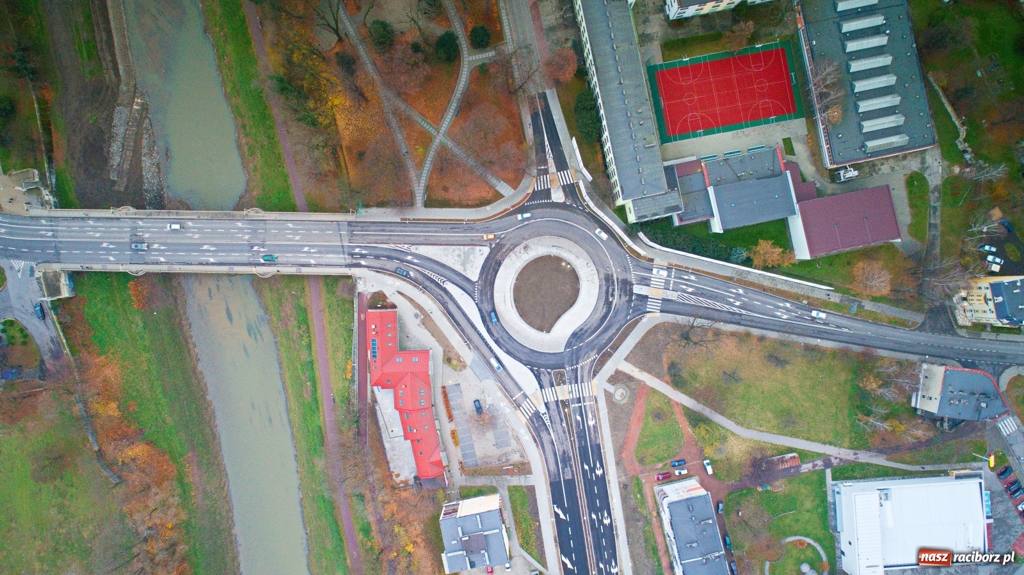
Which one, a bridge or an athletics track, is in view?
bridge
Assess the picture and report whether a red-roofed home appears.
Yes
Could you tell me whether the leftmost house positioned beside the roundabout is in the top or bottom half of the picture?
bottom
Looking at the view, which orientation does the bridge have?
horizontally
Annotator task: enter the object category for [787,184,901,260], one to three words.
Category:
building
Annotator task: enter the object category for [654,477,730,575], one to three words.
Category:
building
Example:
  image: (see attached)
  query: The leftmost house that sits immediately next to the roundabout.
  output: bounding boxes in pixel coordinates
[366,311,449,486]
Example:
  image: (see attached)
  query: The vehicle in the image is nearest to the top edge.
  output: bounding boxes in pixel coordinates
[838,165,862,181]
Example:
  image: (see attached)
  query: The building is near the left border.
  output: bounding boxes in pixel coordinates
[8,167,44,185]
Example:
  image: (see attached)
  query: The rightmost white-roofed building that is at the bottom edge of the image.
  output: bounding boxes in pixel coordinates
[836,464,993,575]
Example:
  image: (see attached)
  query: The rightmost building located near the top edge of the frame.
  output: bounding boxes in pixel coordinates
[793,0,939,169]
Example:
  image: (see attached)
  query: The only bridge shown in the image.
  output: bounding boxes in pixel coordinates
[38,205,358,277]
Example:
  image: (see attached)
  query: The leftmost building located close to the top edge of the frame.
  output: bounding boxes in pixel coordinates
[572,0,668,206]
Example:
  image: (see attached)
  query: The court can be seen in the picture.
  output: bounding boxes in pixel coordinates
[646,36,809,144]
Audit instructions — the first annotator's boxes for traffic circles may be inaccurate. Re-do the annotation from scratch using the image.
[410,157,678,575]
